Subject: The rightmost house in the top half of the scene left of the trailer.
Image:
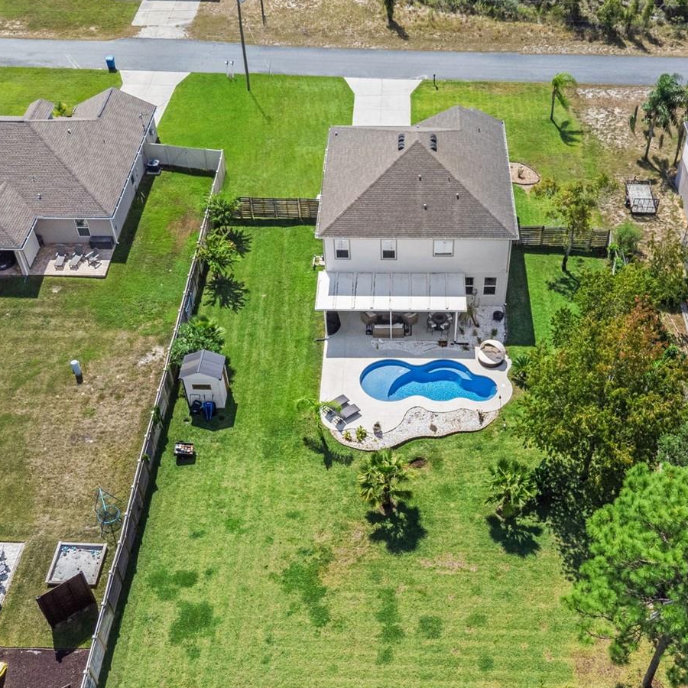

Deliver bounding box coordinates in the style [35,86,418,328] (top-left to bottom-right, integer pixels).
[314,100,522,339]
